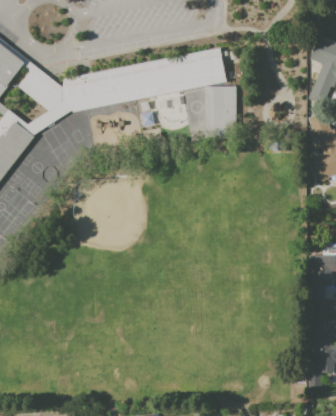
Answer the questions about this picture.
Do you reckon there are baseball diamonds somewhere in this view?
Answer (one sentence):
Yes, the image includes a baseball diamond.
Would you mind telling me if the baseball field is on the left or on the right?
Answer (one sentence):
You can find the baseball field on the left side of the picture.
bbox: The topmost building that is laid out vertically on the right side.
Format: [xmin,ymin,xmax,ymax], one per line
[308,38,336,95]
